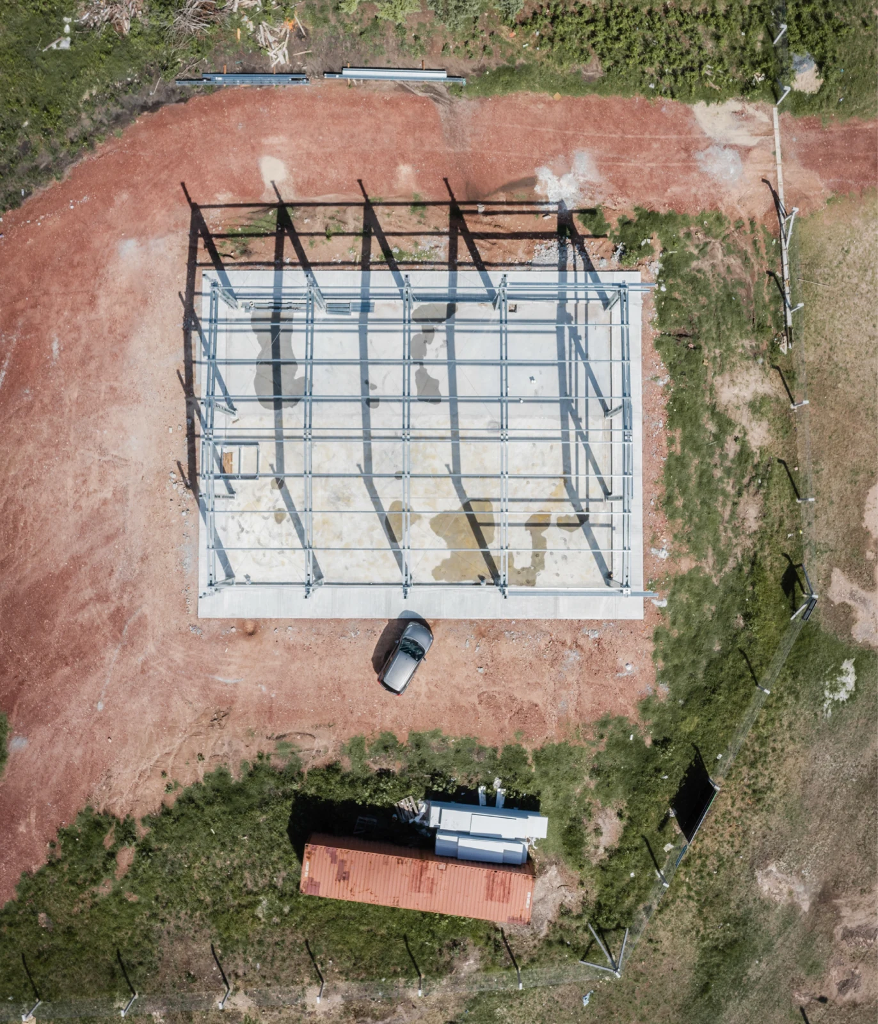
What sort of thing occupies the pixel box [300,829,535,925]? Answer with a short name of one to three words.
shipping container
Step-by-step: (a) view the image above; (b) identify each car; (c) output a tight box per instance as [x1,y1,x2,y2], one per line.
[377,620,431,695]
